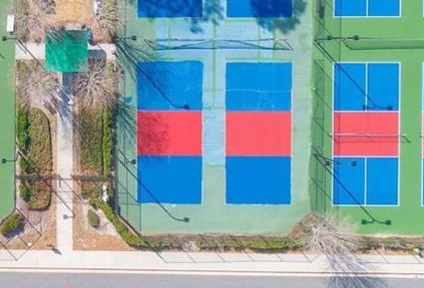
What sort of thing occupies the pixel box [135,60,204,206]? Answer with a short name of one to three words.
sports court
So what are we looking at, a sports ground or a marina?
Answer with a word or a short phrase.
sports ground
